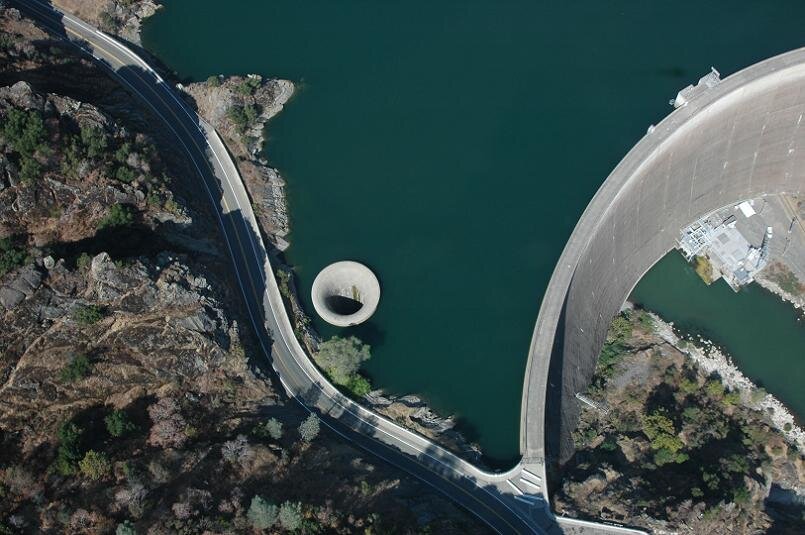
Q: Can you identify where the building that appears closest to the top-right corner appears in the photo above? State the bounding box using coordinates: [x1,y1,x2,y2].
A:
[697,58,728,97]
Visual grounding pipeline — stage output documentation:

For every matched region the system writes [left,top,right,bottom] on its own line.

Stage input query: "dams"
[519,46,805,468]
